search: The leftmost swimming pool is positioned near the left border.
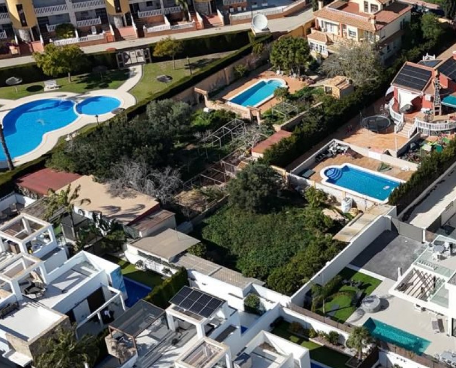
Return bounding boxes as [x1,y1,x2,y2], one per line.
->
[0,97,81,163]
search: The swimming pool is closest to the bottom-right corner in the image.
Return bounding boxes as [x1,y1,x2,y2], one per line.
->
[362,315,434,356]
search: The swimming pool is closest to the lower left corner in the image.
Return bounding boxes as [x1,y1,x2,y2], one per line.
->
[120,272,156,308]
